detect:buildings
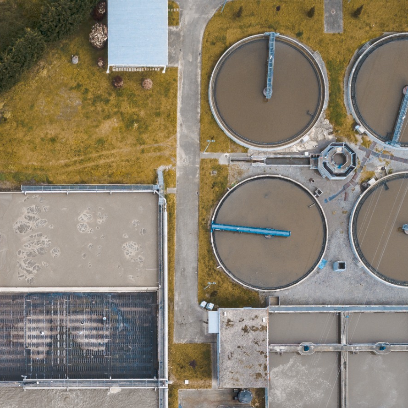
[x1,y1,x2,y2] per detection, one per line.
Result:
[209,307,268,387]
[108,0,168,69]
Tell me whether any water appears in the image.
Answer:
Yes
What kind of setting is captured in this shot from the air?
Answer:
industrial area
